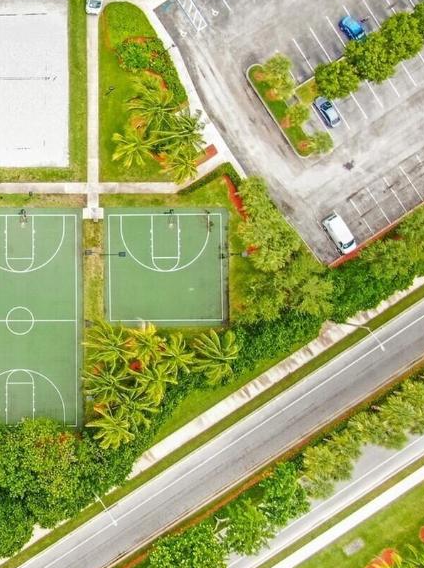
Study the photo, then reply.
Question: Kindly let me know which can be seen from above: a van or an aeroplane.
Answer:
van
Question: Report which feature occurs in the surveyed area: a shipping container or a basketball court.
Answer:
basketball court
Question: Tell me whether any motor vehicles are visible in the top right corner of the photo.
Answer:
Yes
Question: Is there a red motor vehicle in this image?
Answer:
No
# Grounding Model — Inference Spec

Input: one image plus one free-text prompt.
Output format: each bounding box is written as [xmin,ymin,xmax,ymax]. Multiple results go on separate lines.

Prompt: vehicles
[337,11,365,42]
[86,0,102,13]
[312,96,341,130]
[321,213,354,251]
